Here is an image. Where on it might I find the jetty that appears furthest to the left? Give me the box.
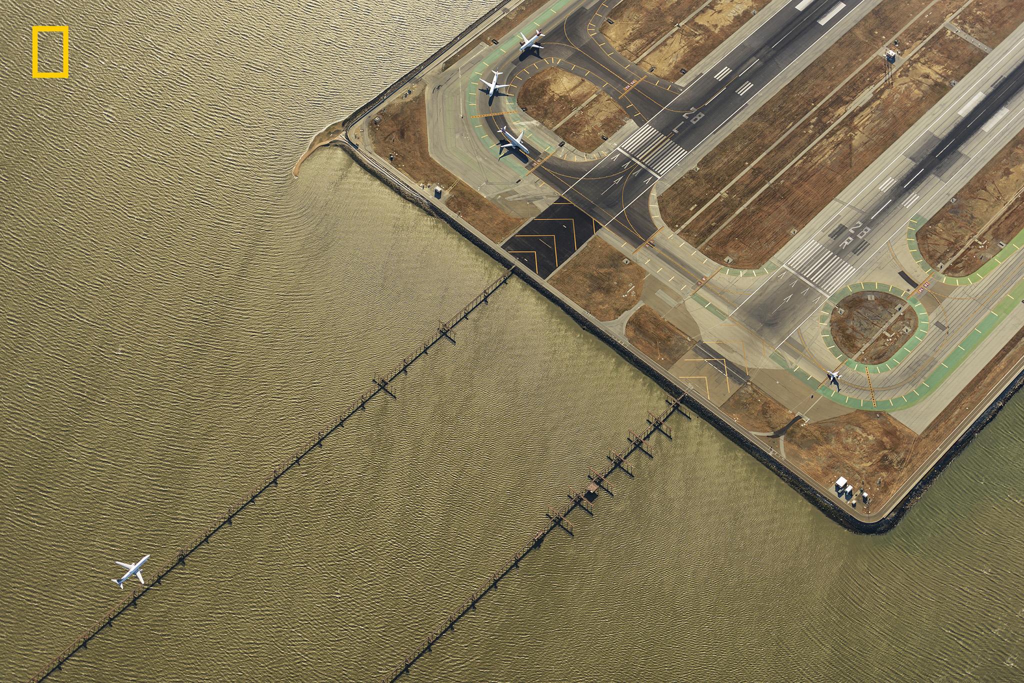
[25,262,519,683]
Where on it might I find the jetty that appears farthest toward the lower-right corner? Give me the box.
[380,385,695,683]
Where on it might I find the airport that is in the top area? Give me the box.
[341,0,1024,507]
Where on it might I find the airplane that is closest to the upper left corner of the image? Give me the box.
[479,67,510,97]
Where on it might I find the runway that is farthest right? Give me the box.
[729,39,1024,349]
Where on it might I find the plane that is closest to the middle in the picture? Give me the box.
[498,126,529,153]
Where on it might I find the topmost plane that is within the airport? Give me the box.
[520,29,545,51]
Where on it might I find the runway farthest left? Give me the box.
[561,0,865,225]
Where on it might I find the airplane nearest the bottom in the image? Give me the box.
[114,555,150,588]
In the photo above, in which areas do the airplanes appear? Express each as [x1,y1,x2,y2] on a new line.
[114,555,150,588]
[479,67,510,97]
[498,126,529,153]
[827,371,843,381]
[520,29,545,51]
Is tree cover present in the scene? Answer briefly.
No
